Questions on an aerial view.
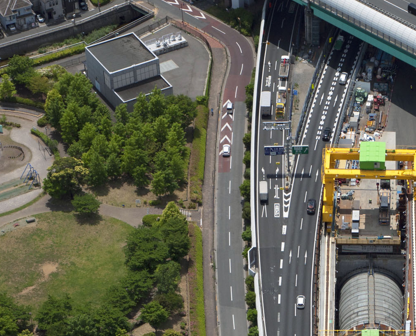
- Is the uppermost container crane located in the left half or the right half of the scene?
right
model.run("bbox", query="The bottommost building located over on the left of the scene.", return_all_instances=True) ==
[90,31,173,115]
